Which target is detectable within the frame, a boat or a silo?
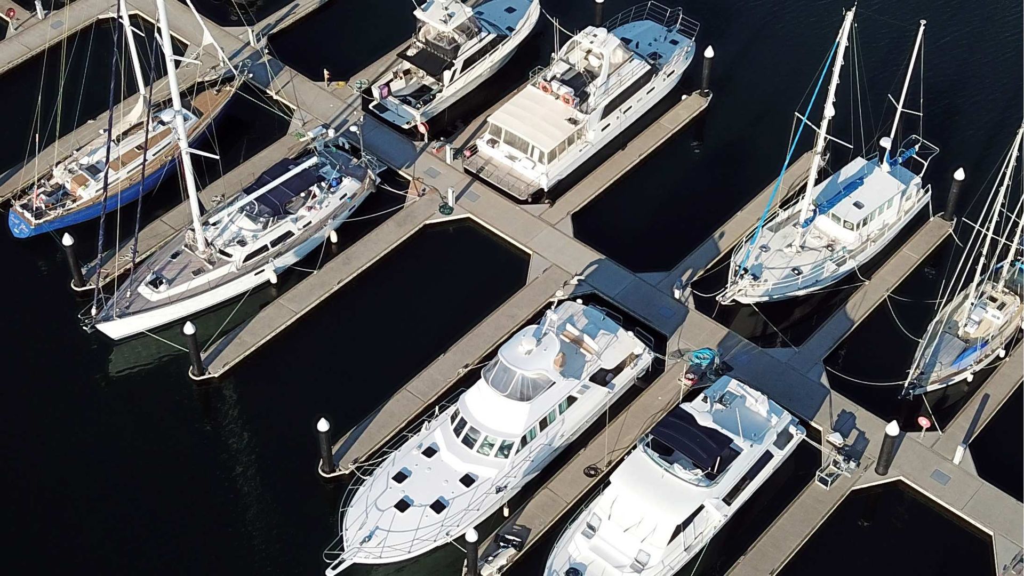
boat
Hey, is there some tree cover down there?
No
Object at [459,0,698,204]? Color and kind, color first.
white boat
